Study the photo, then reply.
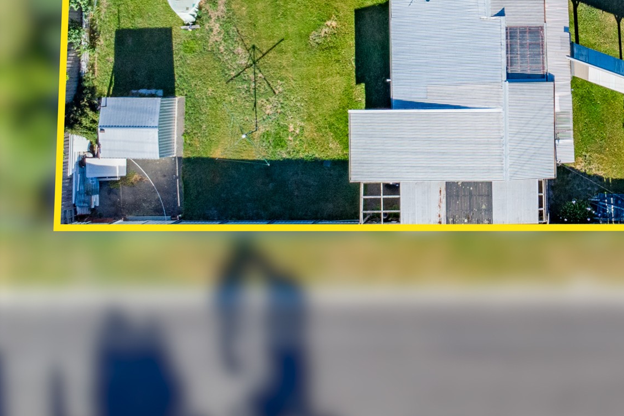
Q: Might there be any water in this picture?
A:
No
